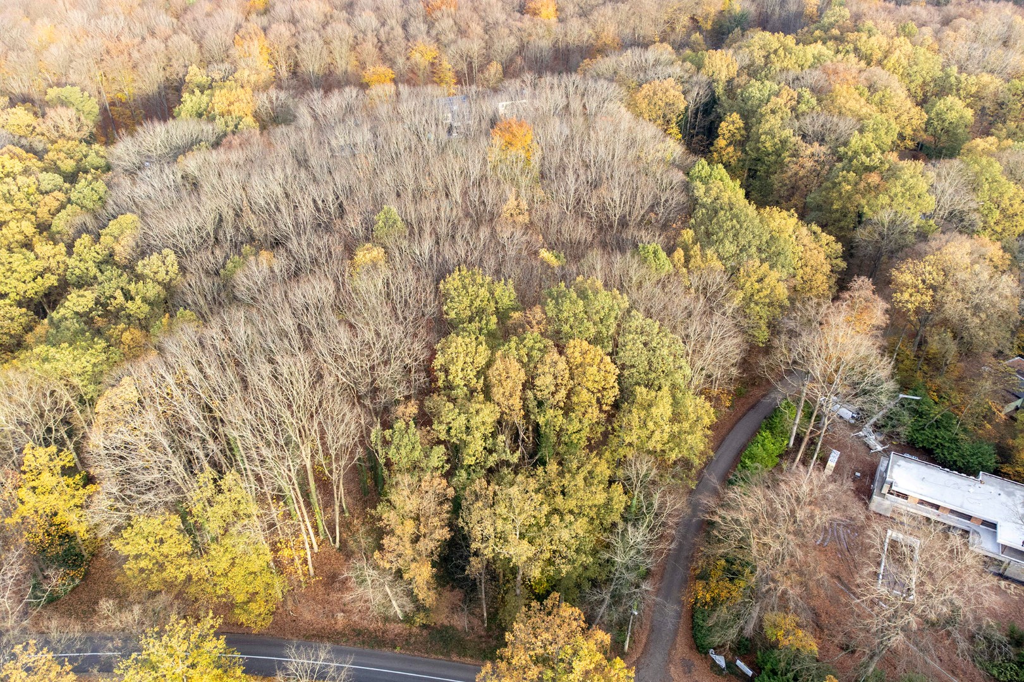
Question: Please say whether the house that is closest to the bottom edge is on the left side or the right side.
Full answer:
It is on the right.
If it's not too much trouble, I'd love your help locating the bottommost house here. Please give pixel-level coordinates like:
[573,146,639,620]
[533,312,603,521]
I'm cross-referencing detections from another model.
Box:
[868,452,1024,579]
